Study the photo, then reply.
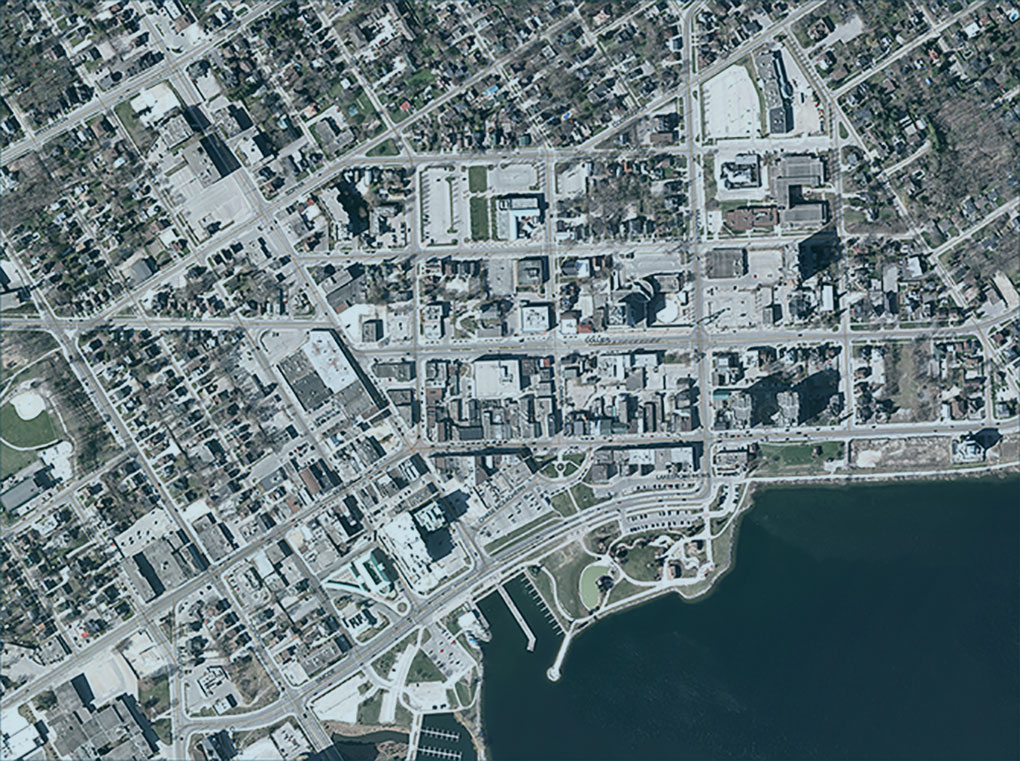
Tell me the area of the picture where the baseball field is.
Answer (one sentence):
You can find the baseball field in the left area of the picture.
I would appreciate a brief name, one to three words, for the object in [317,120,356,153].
building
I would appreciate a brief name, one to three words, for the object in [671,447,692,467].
building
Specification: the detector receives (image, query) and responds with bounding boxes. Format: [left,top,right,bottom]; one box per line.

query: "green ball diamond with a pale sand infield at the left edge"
[0,390,55,448]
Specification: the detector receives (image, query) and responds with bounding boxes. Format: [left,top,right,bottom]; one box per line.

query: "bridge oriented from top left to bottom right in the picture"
[283,692,338,761]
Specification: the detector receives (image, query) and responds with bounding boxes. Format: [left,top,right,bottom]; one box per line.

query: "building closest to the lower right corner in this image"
[955,440,983,460]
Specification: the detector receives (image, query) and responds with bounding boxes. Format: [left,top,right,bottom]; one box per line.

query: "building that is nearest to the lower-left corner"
[0,708,41,760]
